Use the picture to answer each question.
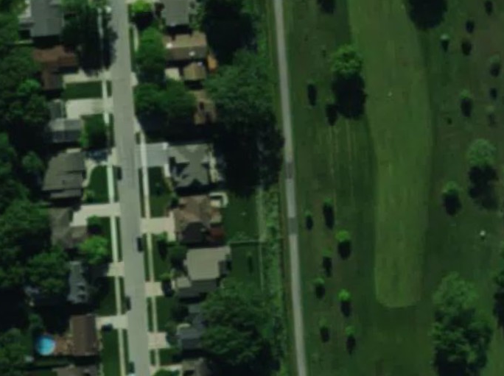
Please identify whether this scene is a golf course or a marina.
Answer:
golf course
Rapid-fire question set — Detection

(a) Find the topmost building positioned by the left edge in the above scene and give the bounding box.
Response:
[18,0,64,39]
